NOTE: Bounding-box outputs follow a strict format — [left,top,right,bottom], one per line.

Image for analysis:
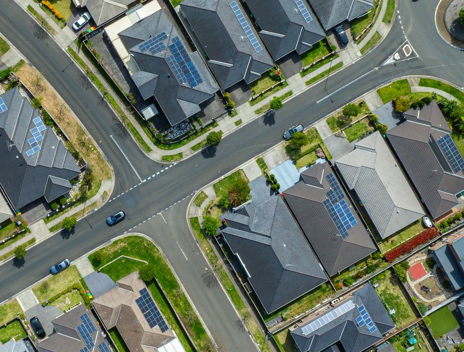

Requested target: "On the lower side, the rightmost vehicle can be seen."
[105,210,127,226]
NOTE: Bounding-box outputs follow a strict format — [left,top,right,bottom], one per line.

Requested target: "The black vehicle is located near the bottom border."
[29,317,45,338]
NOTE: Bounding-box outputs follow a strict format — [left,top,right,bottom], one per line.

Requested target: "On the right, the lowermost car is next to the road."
[282,124,304,140]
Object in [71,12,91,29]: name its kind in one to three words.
car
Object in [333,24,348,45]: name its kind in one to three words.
car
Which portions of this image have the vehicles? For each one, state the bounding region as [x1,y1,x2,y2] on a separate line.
[333,24,348,45]
[282,124,304,140]
[29,317,45,338]
[50,258,71,273]
[71,12,91,29]
[105,210,127,226]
